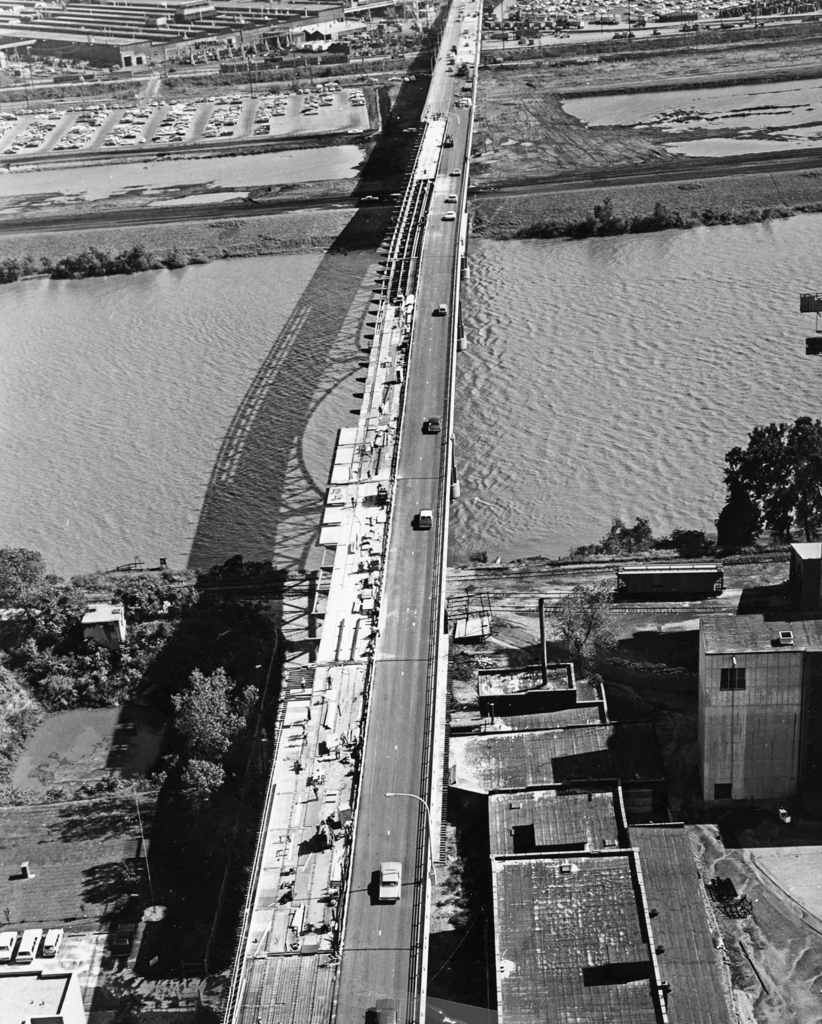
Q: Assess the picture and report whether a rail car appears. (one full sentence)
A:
Yes, there's a rail car here.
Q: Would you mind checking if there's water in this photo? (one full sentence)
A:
Yes, there's water in this view.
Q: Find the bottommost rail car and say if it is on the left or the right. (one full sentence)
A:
The bottommost rail car appears in the right half of the scene.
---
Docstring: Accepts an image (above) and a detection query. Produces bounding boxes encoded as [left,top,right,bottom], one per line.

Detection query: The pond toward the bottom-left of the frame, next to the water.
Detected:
[11,702,172,800]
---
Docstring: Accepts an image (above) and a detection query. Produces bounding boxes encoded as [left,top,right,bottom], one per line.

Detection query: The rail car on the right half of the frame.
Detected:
[615,566,727,596]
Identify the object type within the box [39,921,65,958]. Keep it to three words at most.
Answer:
car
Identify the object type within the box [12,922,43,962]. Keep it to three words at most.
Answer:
car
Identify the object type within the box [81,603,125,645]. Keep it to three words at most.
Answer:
shed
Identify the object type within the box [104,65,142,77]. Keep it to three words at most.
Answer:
rail car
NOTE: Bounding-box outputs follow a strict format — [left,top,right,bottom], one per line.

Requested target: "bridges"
[215,0,483,1024]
